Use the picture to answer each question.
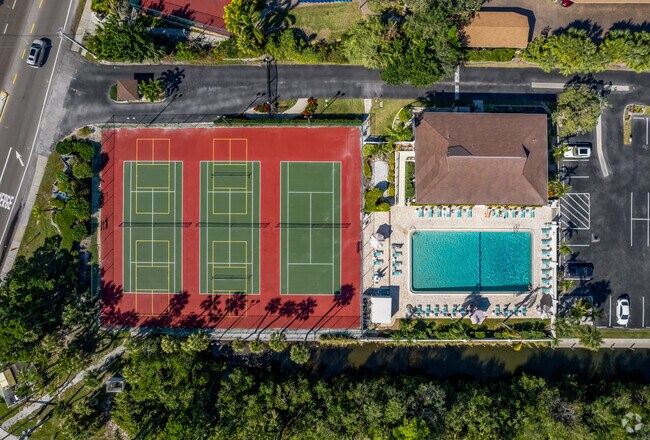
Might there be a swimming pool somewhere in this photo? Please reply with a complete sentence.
Yes, the image includes a swimming pool.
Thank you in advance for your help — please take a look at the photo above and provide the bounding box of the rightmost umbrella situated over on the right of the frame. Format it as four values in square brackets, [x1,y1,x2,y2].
[536,304,550,318]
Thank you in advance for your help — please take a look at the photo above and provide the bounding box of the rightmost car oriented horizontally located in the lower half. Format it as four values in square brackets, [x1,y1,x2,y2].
[564,263,593,277]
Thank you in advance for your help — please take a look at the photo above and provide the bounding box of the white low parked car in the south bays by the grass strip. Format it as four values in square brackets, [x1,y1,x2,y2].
[614,298,630,325]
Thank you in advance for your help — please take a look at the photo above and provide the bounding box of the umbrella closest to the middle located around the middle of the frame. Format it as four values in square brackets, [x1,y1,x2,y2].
[369,233,383,248]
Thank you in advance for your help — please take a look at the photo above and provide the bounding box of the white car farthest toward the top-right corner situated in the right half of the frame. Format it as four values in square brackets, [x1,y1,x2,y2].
[561,145,590,159]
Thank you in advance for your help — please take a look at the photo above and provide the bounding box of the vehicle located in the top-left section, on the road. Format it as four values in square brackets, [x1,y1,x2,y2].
[27,39,49,68]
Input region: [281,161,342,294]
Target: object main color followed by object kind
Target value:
green tennis court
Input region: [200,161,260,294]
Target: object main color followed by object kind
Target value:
green tennis court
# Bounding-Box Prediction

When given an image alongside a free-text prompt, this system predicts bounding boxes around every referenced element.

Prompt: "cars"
[614,298,630,325]
[564,263,593,277]
[27,39,49,68]
[561,145,590,159]
[559,0,572,10]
